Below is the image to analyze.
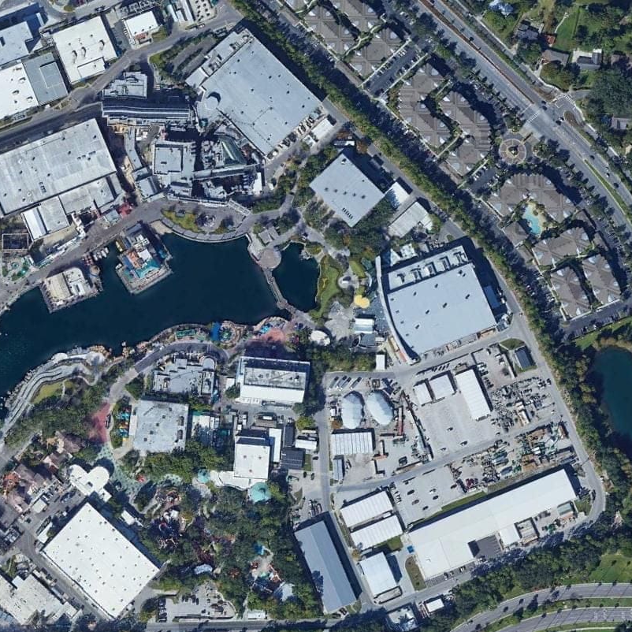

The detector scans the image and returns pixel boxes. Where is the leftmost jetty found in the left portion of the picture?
[41,267,102,312]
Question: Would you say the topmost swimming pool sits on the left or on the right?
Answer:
right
